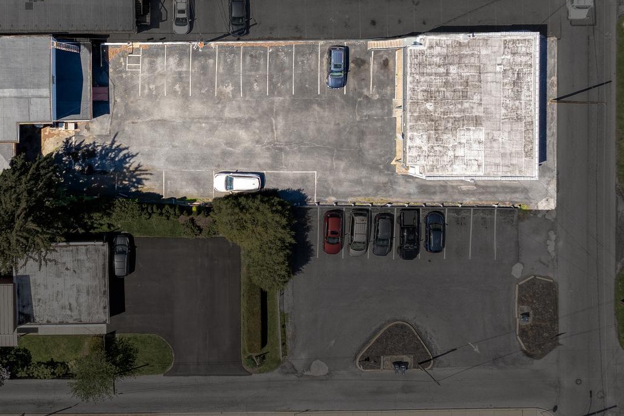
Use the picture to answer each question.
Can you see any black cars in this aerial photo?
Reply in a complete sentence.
Yes, looking at the shot, I can spot a black car.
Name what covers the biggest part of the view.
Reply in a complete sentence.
For the most part, this view shows paved ground.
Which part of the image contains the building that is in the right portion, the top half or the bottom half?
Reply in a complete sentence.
The building that is in the right portion sits in the top half of the picture.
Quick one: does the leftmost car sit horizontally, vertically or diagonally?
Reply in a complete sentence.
From this overhead view, the leftmost car appears to run vertically.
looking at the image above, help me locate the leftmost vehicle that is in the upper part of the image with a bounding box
[172,0,192,35]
